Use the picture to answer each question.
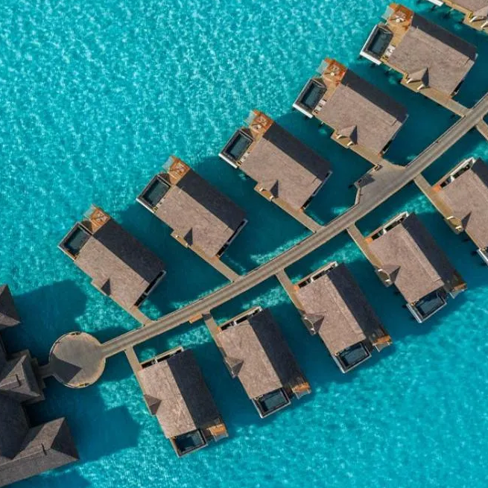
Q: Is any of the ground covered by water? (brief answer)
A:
Yes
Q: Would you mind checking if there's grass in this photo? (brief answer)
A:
No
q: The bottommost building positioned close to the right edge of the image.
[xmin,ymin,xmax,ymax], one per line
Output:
[363,208,465,304]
